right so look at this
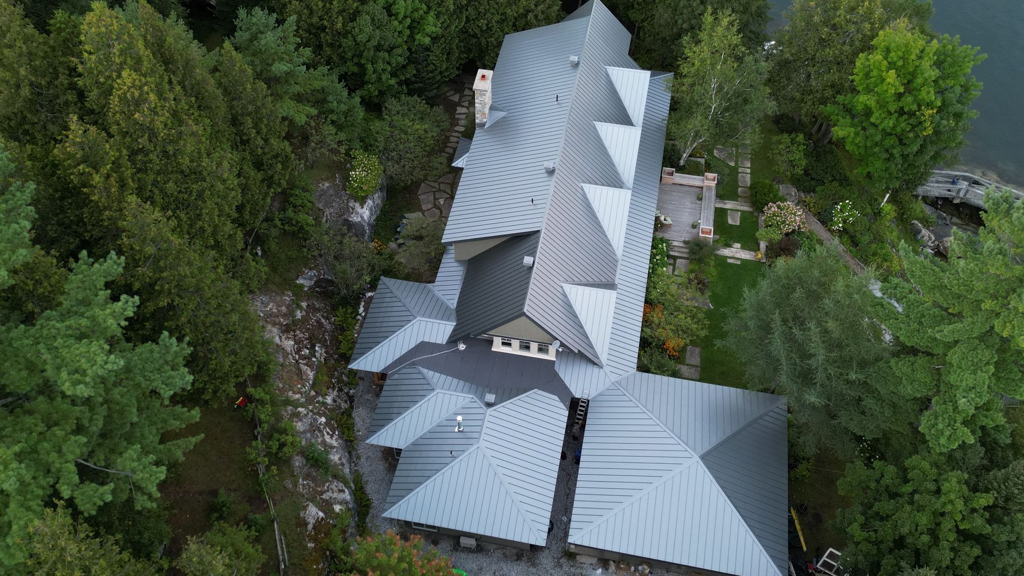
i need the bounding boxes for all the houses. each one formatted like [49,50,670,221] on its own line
[347,0,789,576]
